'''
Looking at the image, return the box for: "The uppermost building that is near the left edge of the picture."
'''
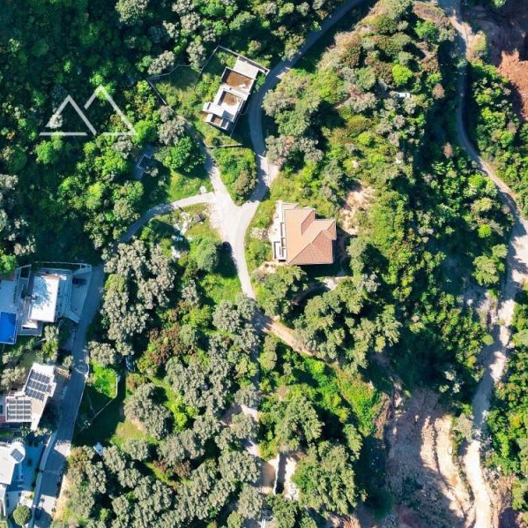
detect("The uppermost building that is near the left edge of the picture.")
[0,263,90,345]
